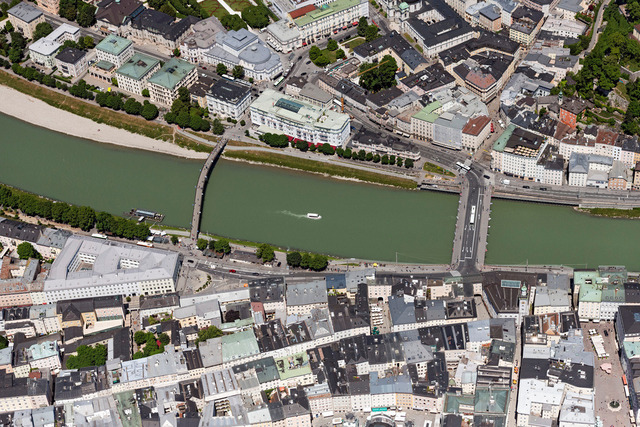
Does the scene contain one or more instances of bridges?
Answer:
Yes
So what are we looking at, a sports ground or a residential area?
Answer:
residential area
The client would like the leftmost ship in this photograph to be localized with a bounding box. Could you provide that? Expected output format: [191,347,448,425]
[129,208,166,222]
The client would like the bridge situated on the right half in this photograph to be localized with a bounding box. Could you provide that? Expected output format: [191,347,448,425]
[449,180,493,271]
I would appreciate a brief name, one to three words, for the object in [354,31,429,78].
house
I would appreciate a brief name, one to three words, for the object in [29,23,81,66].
building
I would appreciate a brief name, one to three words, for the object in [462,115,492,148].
house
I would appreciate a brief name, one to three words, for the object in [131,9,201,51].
building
